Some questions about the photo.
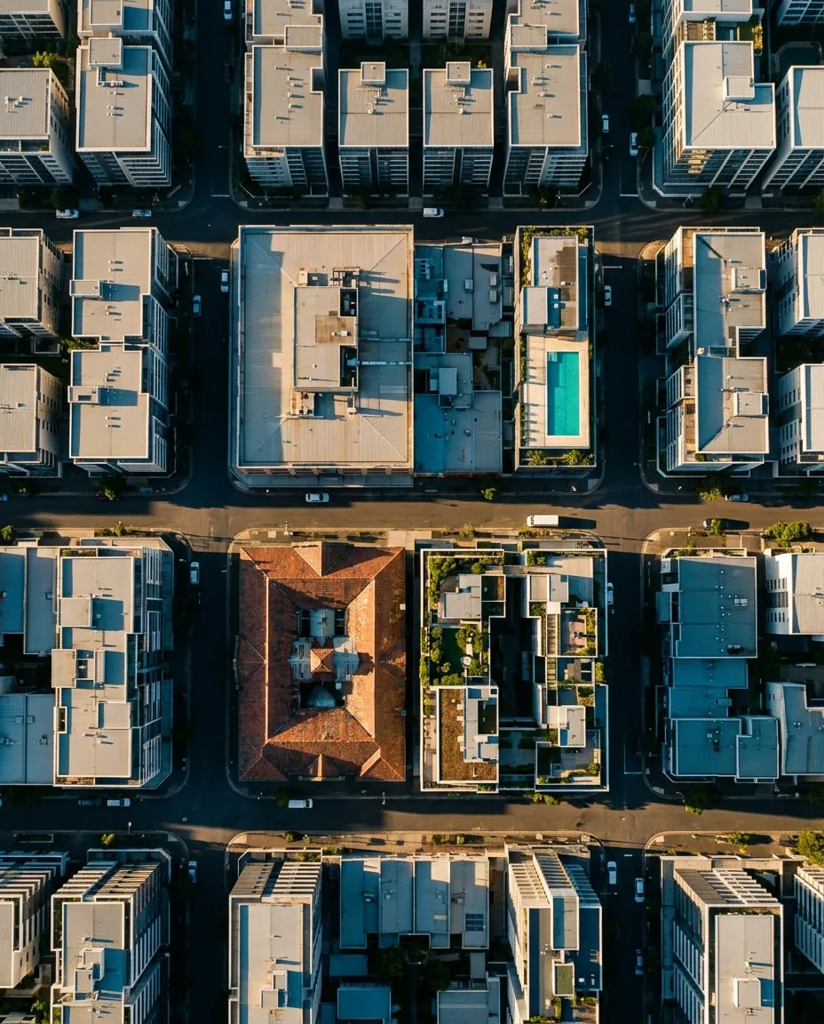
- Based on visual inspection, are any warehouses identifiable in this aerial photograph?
Yes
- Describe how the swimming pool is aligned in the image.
vertically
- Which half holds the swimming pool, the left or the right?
right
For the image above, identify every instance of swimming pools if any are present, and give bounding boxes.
[547,351,580,436]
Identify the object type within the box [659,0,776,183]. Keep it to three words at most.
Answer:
building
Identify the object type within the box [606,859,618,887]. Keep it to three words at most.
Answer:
vehicle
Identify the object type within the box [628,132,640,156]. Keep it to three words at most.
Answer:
vehicle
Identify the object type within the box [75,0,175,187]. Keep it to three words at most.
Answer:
building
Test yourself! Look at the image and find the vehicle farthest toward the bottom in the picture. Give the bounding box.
[634,948,646,974]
